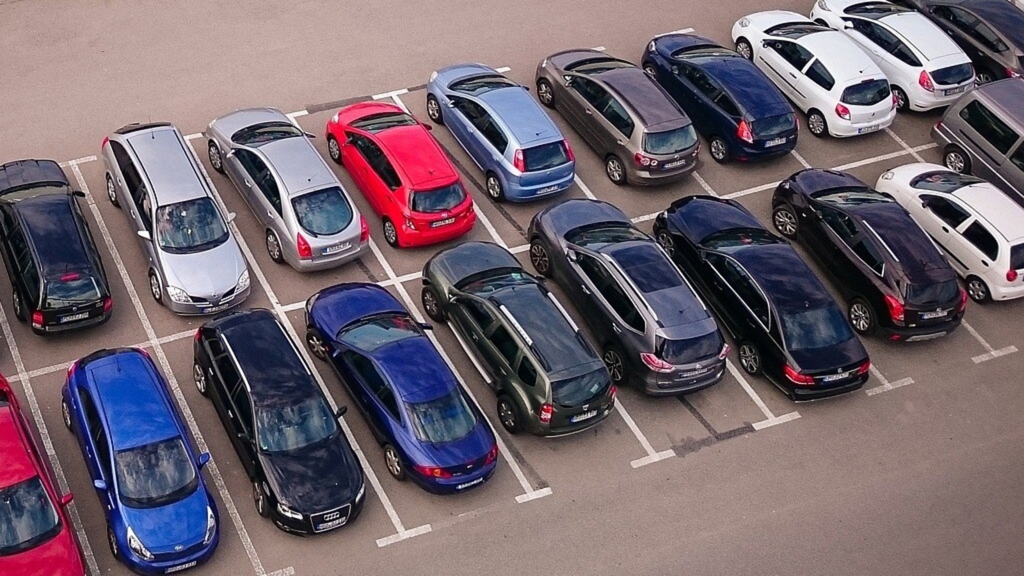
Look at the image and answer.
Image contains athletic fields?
No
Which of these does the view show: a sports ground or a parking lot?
parking lot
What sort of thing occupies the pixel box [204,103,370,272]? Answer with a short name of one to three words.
car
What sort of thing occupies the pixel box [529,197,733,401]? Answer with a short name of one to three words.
car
